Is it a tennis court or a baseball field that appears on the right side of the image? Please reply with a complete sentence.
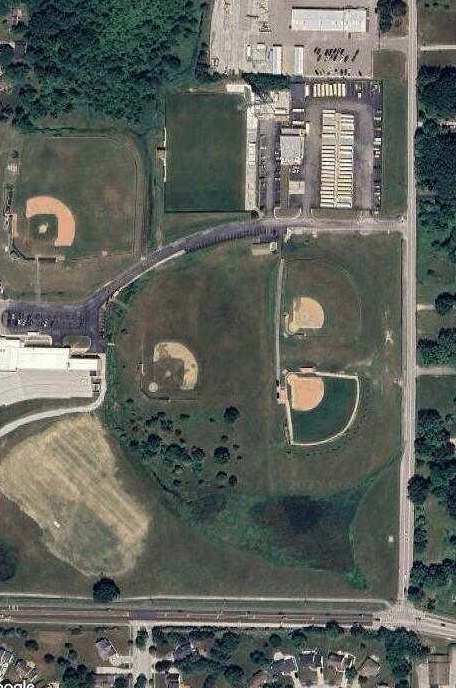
Visible on the right side of the image is a baseball field.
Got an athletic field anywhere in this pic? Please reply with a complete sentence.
Yes, there's an athletic field down there.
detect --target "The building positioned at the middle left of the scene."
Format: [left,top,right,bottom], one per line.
[0,332,97,408]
